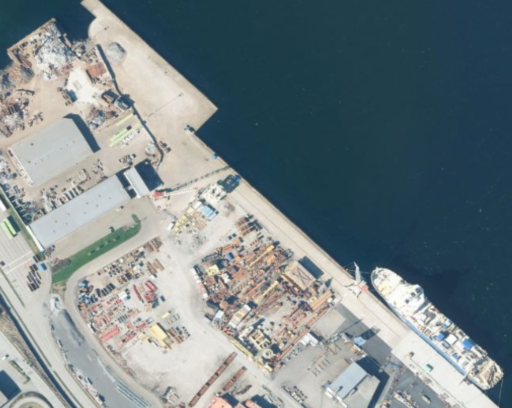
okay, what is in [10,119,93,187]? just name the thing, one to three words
building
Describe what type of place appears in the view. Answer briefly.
port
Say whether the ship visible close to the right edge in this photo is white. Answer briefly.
Yes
